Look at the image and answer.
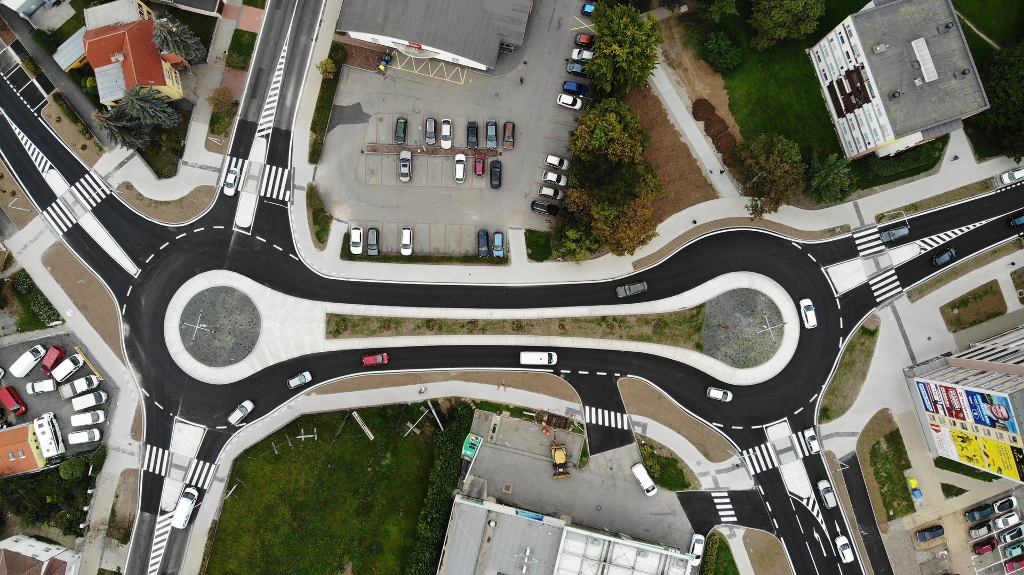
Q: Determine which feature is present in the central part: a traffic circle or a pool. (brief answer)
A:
traffic circle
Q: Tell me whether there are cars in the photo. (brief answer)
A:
Yes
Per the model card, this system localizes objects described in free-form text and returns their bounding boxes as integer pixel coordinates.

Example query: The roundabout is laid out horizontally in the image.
[121,226,842,429]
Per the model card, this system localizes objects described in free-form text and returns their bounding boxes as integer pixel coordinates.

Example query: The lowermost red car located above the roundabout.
[473,154,486,177]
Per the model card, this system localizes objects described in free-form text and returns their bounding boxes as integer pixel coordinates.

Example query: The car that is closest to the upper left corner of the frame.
[223,167,241,197]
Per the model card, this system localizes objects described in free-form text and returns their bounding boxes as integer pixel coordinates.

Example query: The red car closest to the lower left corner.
[0,384,26,416]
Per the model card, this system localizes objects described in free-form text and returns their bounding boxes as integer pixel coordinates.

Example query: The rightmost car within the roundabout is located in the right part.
[799,299,816,328]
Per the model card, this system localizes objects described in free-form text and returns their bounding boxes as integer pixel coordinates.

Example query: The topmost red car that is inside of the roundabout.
[362,352,389,366]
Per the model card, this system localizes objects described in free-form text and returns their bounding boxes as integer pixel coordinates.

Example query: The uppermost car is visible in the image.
[575,2,603,19]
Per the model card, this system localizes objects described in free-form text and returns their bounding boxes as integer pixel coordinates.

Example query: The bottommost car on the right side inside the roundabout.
[706,386,732,403]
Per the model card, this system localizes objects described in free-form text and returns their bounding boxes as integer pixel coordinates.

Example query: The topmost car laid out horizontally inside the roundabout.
[616,281,647,298]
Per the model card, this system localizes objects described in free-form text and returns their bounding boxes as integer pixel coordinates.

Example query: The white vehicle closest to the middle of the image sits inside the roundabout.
[520,351,556,366]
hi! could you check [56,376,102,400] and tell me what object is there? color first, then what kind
white truck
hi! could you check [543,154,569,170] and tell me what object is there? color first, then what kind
white car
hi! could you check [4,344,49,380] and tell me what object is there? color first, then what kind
white van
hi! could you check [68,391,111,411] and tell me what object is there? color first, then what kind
white vehicle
